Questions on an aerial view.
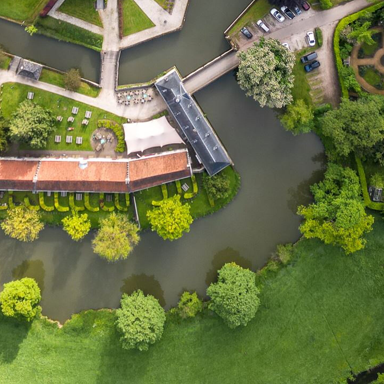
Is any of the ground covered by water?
Yes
